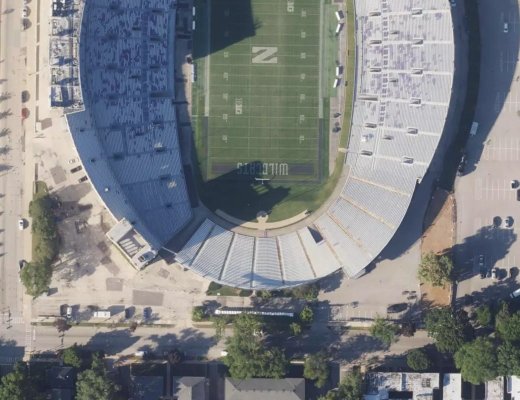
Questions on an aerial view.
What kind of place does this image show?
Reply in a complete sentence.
It's a sports ground.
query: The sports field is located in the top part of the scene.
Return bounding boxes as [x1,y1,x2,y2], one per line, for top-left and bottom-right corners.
[192,0,338,223]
